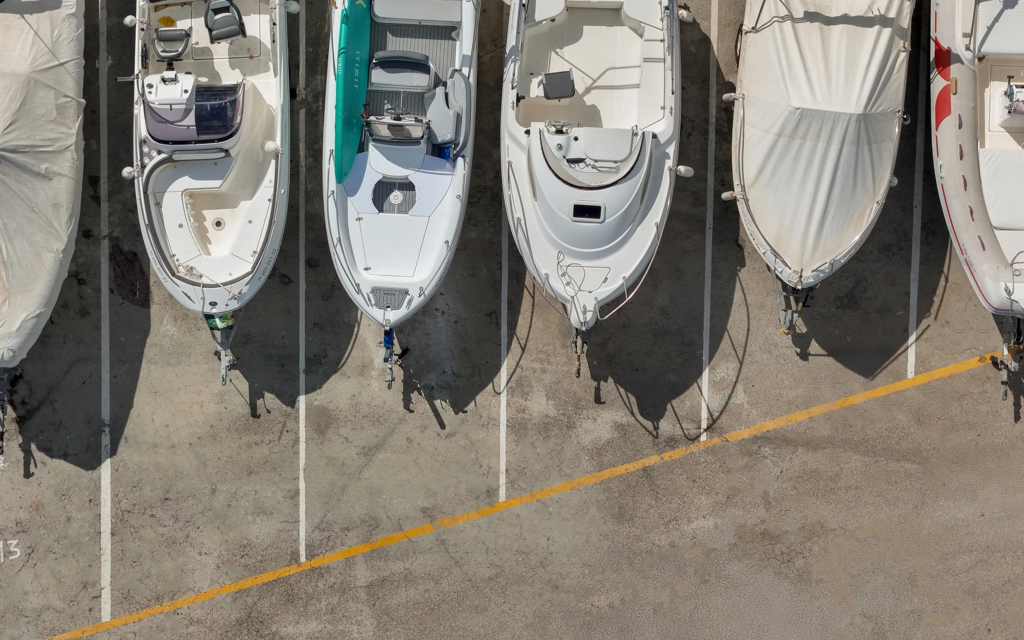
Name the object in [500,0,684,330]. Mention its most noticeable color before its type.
white boat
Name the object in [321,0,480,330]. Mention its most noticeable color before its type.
white boat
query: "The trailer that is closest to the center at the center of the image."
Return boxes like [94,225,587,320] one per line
[562,303,592,379]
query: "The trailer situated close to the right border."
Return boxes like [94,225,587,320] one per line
[988,312,1024,401]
